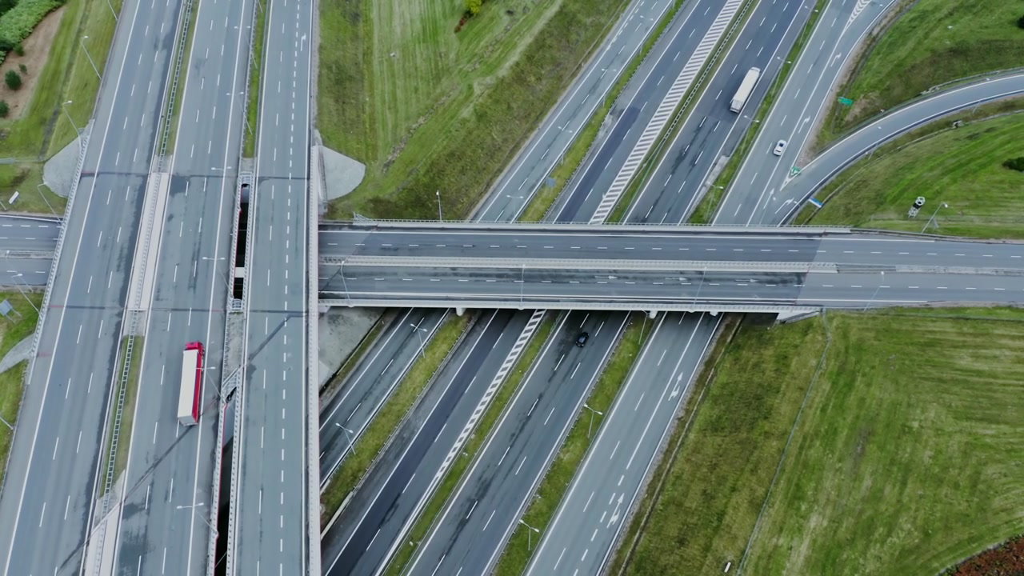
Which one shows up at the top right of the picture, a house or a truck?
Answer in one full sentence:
The feature located at the top right of the picture is a truck.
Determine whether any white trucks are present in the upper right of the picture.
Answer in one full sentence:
Yes, there is a white truck in the upper right of the picture.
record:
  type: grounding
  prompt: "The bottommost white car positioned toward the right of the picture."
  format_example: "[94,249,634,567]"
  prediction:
[774,142,786,156]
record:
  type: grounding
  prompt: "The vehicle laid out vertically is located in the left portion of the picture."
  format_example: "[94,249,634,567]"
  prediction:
[179,339,207,426]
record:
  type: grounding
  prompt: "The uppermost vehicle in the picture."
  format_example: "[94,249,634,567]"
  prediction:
[730,67,762,113]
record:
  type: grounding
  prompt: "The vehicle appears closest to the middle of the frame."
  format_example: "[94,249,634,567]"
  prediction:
[574,332,589,350]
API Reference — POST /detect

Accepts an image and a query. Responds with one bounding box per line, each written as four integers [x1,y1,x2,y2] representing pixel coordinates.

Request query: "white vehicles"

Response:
[774,142,786,156]
[179,339,207,426]
[730,67,762,113]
